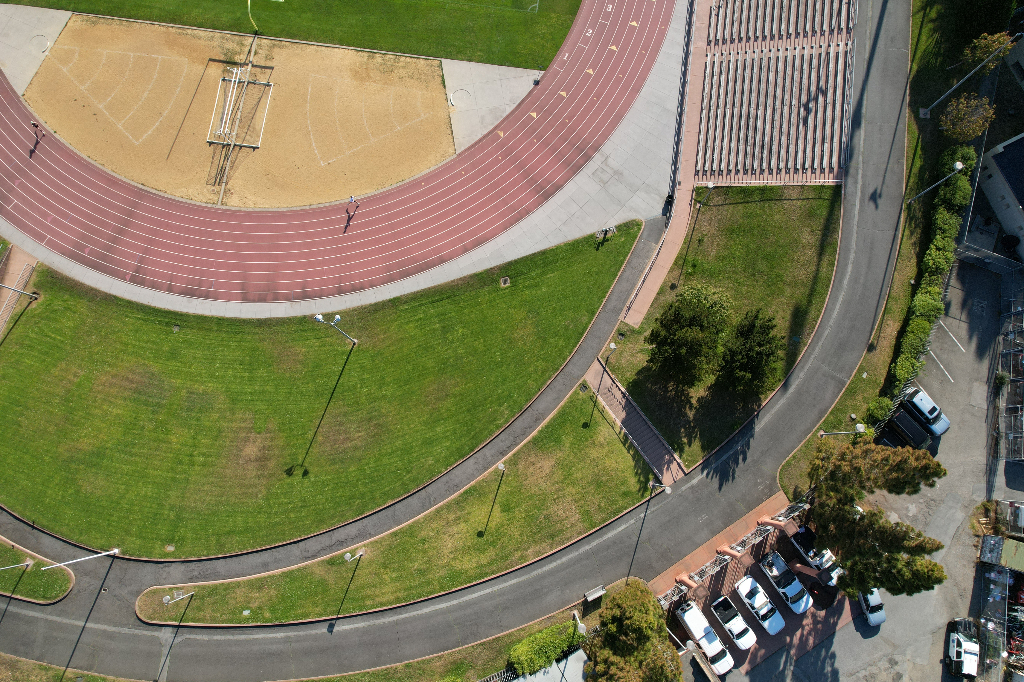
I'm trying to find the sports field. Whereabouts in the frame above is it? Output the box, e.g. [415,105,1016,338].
[0,0,576,70]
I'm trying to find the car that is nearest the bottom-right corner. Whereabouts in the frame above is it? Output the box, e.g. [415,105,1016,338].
[943,617,980,679]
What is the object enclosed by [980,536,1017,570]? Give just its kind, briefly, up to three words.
shed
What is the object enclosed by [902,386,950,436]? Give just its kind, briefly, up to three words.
car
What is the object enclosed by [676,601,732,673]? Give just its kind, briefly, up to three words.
truck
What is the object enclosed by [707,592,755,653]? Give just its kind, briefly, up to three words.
truck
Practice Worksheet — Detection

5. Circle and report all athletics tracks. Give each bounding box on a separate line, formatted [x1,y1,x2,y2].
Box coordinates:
[0,0,674,304]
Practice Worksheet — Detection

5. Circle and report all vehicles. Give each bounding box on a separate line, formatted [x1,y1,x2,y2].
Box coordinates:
[707,592,755,653]
[792,522,843,582]
[852,576,887,629]
[676,601,732,673]
[902,386,950,436]
[734,576,784,633]
[759,552,812,613]
[943,617,980,679]
[884,402,929,452]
